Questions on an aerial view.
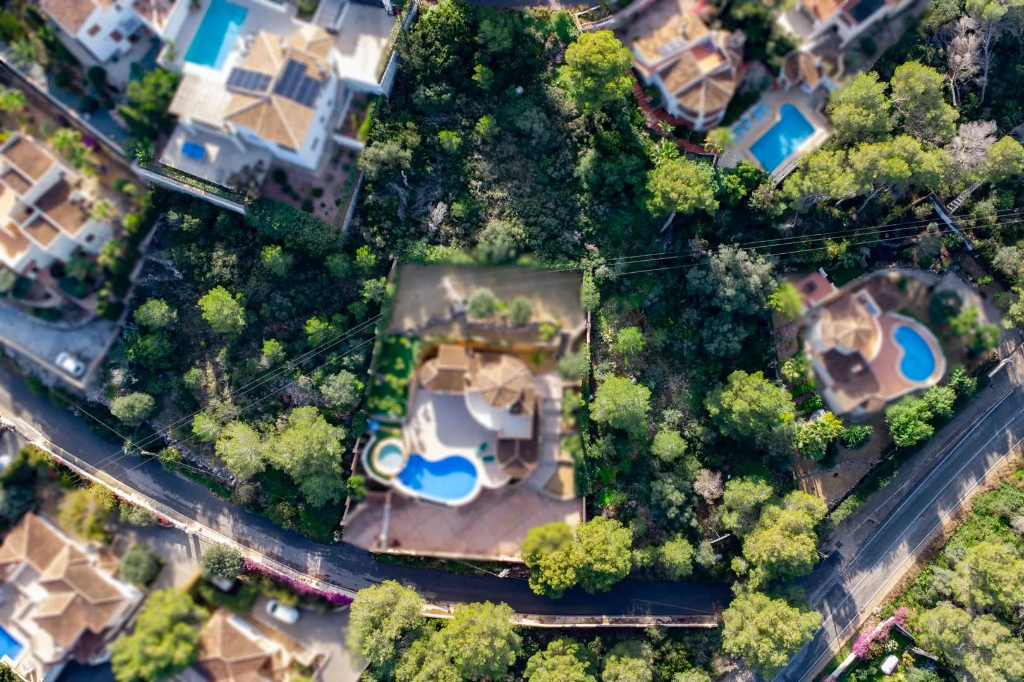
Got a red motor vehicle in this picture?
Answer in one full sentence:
No, there isn't any red motor vehicle down there.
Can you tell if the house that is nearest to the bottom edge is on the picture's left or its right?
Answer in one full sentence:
The house that is nearest to the bottom edge is on the left side of the image.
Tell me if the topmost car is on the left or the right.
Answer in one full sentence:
The topmost car sits on the left side.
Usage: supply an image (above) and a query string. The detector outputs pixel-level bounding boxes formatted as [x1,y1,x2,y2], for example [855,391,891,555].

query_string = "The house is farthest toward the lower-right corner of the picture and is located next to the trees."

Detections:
[802,287,884,420]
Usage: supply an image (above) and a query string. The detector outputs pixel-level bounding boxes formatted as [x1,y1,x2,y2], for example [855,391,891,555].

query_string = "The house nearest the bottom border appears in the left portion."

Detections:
[193,605,317,682]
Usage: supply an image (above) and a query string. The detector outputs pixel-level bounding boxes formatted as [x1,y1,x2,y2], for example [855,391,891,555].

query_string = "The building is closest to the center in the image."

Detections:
[417,345,540,479]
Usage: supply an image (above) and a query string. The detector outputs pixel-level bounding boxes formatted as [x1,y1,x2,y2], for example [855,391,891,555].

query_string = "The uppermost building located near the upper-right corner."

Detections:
[774,0,908,59]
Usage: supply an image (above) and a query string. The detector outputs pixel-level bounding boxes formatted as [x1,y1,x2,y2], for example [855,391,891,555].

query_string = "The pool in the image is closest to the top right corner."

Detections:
[741,95,824,182]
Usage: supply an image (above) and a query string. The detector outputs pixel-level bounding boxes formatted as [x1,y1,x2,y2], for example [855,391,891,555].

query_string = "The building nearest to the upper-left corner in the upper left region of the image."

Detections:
[41,0,163,77]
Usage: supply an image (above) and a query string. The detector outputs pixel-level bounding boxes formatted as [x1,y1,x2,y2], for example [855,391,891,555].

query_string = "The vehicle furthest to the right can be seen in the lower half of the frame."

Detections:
[268,597,303,624]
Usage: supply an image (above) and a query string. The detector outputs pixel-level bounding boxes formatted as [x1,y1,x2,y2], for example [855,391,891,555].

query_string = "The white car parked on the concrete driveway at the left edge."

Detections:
[56,350,91,377]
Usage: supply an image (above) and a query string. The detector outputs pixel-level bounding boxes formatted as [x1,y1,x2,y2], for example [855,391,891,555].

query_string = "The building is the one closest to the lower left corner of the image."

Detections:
[0,508,156,663]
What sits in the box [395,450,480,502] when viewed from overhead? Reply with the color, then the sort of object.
blue swimming pool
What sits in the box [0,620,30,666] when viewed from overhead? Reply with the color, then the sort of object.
blue swimming pool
